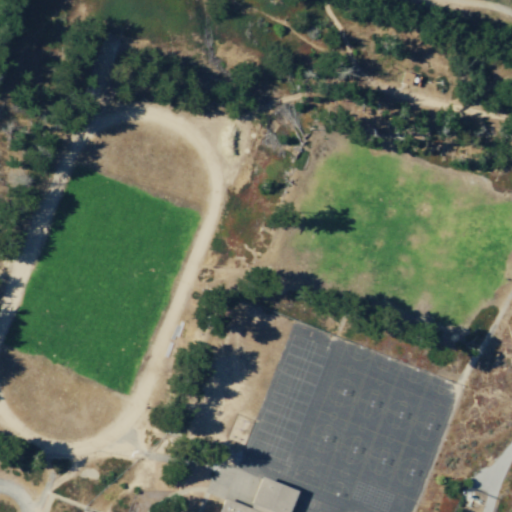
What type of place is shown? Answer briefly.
sports ground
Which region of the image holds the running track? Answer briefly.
left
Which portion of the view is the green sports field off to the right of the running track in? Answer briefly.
right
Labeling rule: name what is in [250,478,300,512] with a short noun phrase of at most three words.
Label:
building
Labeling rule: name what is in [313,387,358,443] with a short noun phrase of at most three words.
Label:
basketball court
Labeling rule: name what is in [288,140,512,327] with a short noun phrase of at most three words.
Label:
sports field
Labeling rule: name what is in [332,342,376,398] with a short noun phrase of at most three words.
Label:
basketball court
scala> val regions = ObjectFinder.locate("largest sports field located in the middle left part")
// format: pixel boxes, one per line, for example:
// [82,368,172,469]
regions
[8,170,201,395]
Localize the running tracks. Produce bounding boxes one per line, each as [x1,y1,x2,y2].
[0,97,224,463]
